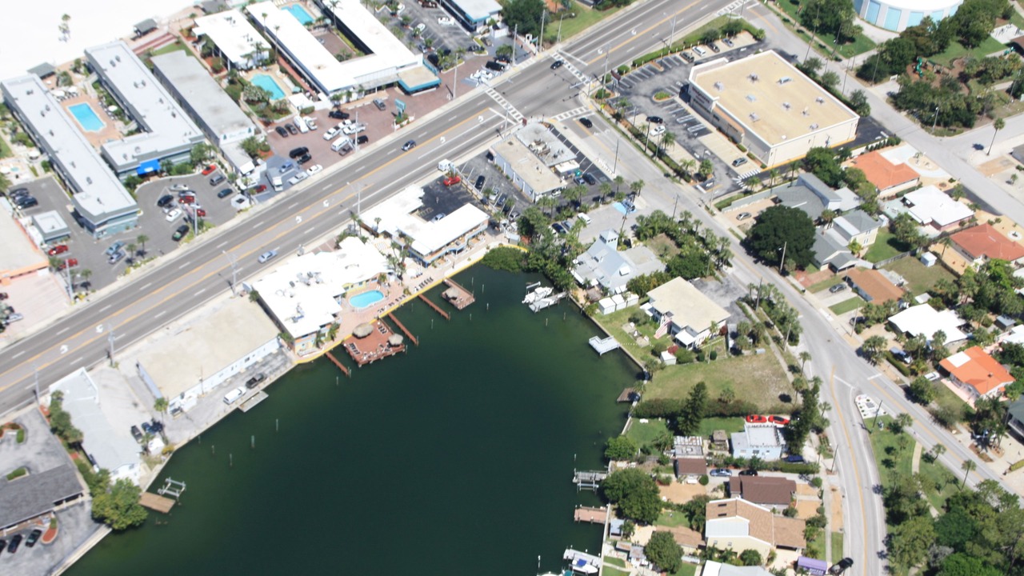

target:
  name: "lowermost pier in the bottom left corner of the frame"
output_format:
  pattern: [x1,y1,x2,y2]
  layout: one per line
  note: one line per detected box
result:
[139,490,176,517]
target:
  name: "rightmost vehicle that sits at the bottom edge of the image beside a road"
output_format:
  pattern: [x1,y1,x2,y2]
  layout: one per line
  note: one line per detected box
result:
[830,554,855,571]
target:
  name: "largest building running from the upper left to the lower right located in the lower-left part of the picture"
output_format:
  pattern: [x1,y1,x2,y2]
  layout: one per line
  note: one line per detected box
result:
[49,366,139,483]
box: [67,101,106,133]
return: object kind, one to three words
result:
swimming pool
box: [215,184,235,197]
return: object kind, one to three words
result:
vehicle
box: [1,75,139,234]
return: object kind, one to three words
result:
building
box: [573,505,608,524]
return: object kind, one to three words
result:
pier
